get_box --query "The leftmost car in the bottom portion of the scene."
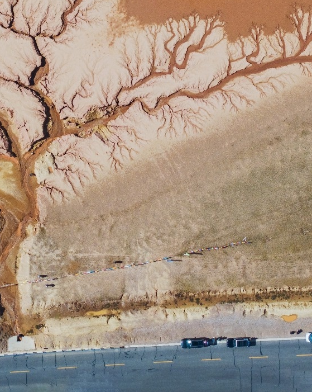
[181,338,207,351]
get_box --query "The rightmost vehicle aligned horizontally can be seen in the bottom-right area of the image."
[225,337,252,351]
